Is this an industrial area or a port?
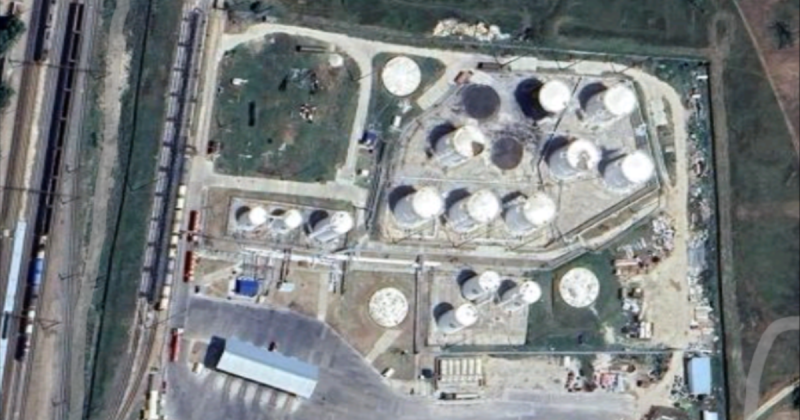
industrial area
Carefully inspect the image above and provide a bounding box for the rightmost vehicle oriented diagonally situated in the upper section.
[455,70,473,86]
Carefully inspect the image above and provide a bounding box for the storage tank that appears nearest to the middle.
[393,187,444,233]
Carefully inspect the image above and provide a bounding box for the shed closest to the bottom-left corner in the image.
[237,278,259,297]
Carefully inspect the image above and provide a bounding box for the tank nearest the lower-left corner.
[237,206,268,237]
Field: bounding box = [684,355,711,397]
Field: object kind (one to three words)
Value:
shed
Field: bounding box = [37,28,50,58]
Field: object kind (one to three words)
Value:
rail car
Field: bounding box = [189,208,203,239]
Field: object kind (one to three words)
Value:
vehicle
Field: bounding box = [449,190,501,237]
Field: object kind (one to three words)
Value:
storage tank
